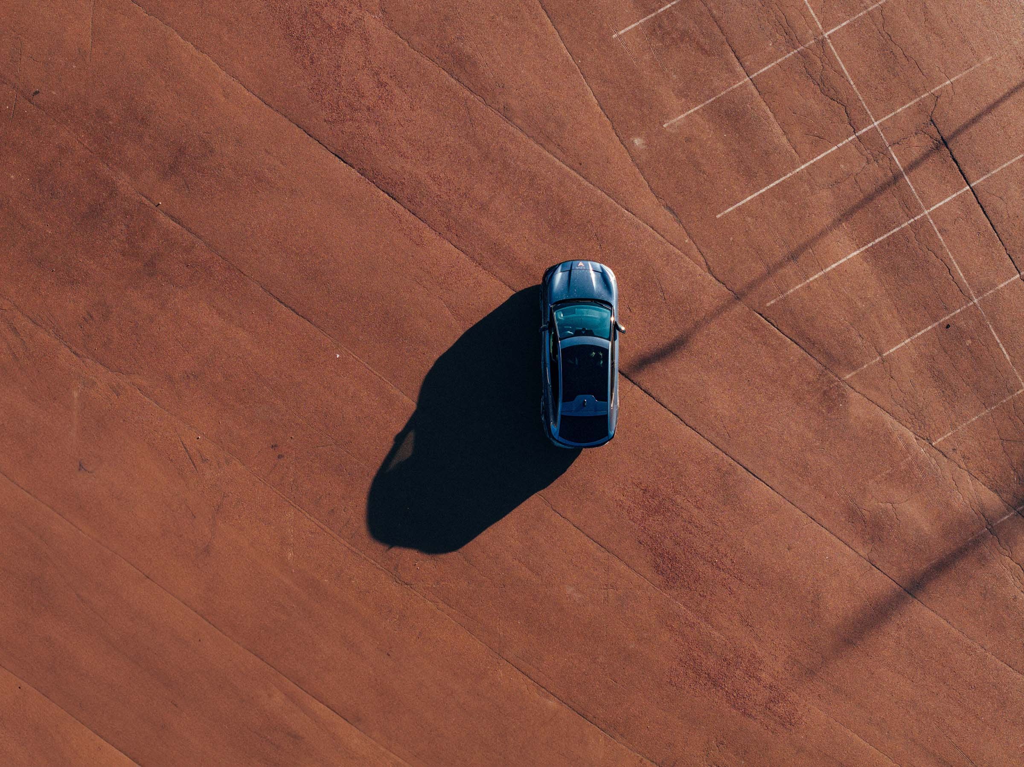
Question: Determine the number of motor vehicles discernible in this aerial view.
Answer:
1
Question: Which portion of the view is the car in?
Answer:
center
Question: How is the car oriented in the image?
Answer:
up and down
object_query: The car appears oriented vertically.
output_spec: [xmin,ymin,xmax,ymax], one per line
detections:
[537,260,627,449]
